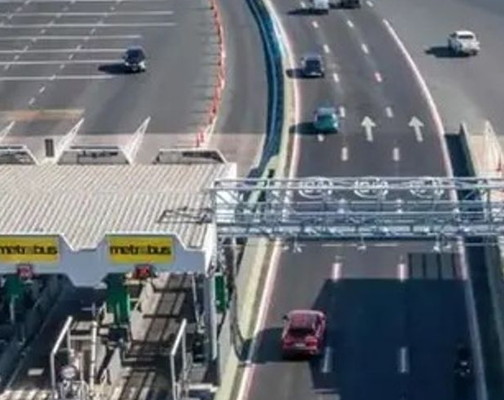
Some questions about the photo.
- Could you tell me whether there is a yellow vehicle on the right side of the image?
No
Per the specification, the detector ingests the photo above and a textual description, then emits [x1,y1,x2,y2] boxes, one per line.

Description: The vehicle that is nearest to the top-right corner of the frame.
[449,33,474,55]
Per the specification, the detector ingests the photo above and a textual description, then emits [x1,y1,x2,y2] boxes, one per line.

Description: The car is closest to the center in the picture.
[313,106,341,130]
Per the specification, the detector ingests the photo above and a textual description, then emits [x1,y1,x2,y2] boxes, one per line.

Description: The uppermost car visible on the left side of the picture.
[124,48,151,70]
